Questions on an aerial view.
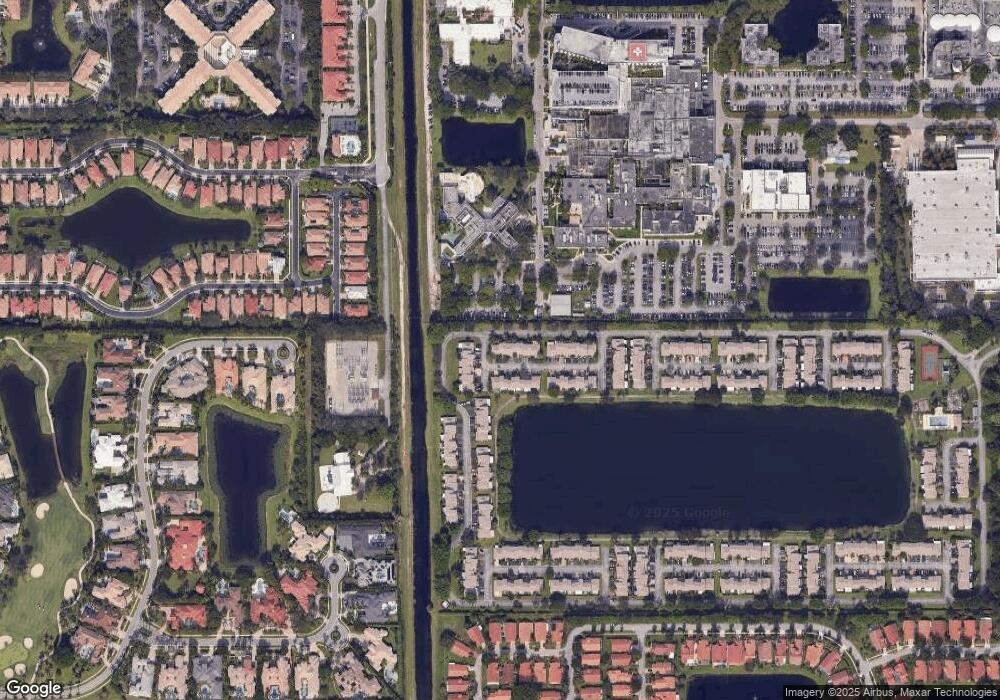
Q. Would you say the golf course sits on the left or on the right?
left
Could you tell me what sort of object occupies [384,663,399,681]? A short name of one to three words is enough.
swimming pool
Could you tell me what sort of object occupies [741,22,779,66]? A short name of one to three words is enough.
building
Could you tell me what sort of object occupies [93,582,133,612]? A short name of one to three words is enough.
house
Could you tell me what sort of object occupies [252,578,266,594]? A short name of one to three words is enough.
swimming pool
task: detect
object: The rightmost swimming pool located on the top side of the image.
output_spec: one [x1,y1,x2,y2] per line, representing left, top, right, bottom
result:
[341,135,361,157]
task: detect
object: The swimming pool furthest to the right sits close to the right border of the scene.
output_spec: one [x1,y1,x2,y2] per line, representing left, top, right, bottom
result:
[923,407,953,430]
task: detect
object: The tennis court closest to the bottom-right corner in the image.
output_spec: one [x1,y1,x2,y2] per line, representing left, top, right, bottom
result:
[922,345,938,381]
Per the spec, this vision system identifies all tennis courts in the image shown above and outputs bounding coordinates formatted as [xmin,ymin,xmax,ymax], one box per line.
[329,116,357,133]
[922,345,938,381]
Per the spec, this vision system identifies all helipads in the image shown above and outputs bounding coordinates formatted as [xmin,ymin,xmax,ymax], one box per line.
[629,37,647,56]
